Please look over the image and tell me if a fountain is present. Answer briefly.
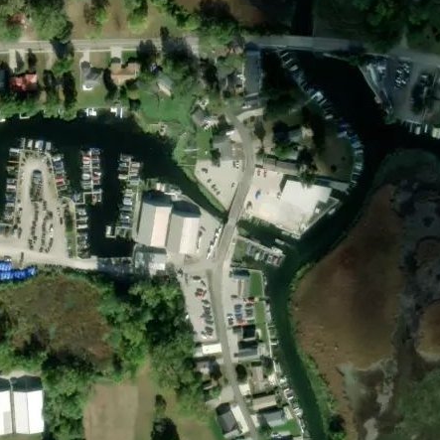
No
